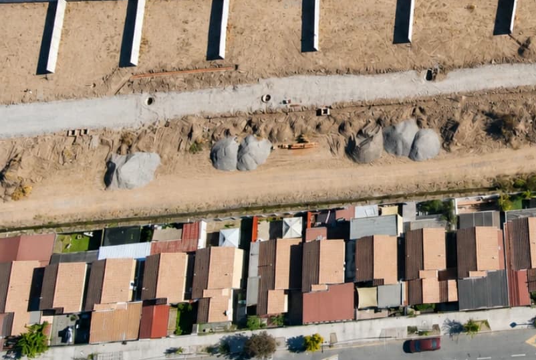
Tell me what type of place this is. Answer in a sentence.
What you see here is a residential area.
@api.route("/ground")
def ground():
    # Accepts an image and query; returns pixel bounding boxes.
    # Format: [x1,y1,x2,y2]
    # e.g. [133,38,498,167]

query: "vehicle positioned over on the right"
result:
[409,337,439,353]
